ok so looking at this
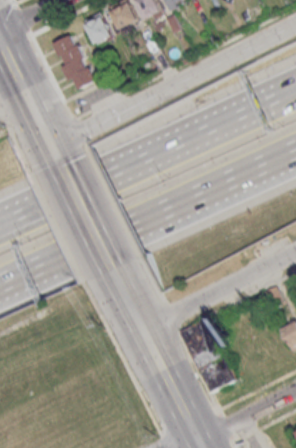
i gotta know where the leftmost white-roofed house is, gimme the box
[86,18,112,44]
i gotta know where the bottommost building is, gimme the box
[200,360,238,390]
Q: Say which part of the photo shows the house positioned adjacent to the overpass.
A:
top left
